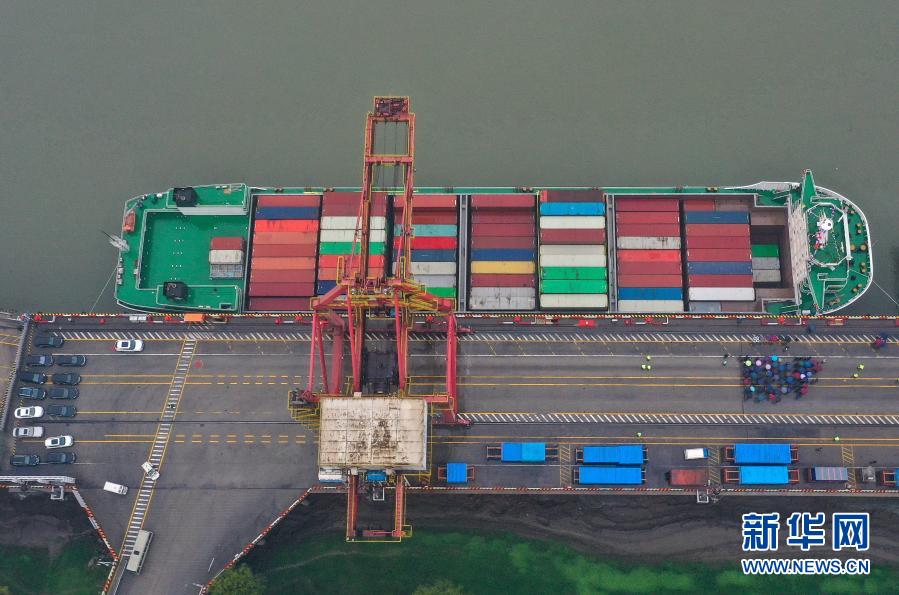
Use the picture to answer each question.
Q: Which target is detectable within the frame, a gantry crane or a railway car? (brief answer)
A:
gantry crane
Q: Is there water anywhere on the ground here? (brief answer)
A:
Yes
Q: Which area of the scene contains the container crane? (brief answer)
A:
center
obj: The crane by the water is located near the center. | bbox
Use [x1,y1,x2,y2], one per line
[287,96,476,541]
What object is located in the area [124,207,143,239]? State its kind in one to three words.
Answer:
boat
